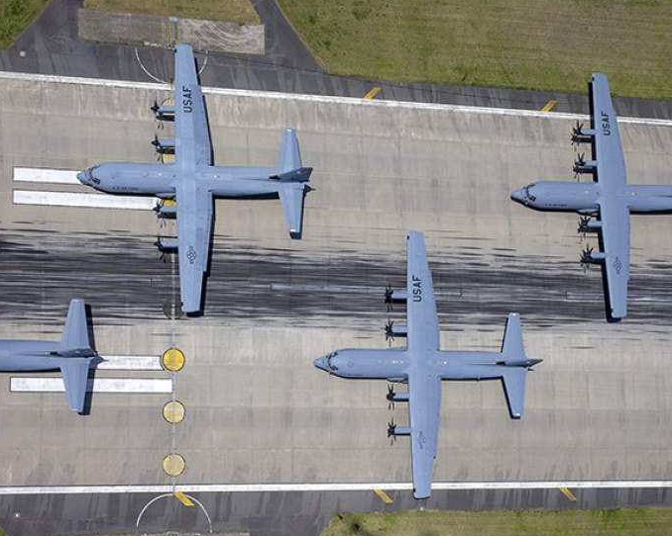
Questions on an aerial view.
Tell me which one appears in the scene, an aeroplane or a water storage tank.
aeroplane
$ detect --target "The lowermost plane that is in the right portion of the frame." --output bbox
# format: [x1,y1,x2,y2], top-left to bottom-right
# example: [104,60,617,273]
[311,231,542,498]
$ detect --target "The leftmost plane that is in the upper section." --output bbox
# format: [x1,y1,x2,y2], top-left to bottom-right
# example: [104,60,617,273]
[76,44,313,311]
